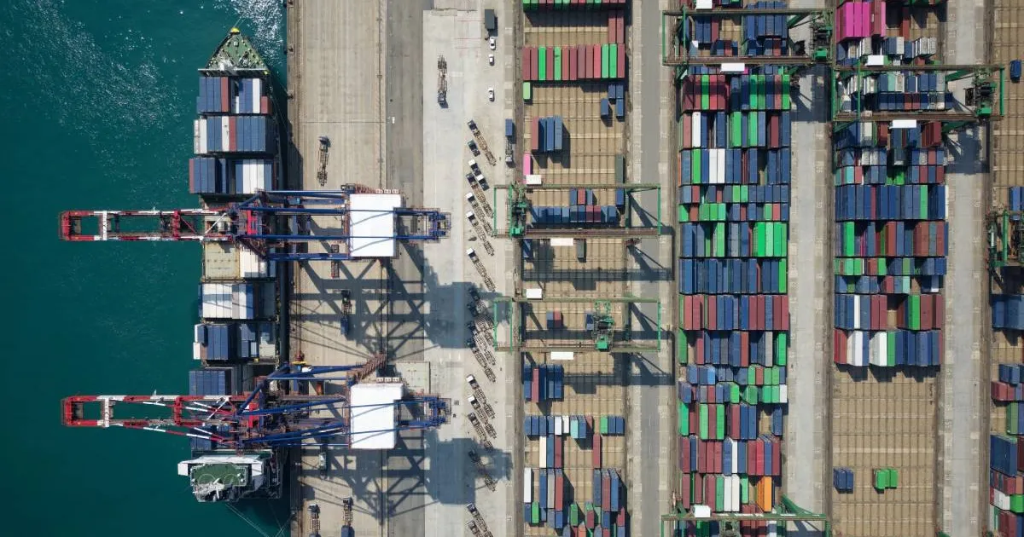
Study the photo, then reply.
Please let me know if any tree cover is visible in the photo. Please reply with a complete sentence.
No, there's no tree cover in this view.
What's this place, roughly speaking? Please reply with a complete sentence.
This image shows a port.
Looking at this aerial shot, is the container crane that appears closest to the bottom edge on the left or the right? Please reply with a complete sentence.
The container crane that appears closest to the bottom edge is on the right side of the image.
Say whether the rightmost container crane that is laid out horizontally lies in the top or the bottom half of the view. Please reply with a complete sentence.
You can find the rightmost container crane that is laid out horizontally in the top half.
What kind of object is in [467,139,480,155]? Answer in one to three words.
vehicle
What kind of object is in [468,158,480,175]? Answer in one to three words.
vehicle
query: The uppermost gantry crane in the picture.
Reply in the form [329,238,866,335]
[663,1,832,84]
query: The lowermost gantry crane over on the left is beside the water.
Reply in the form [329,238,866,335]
[61,342,460,452]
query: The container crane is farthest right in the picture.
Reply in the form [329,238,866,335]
[986,210,1024,273]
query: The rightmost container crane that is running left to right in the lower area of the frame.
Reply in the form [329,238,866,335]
[663,489,832,537]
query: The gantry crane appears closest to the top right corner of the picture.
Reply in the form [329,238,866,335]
[828,56,1002,135]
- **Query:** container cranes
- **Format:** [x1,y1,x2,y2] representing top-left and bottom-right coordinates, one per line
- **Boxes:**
[986,210,1024,273]
[491,173,659,246]
[663,489,832,537]
[828,56,1002,135]
[61,173,460,272]
[663,1,832,84]
[61,342,460,452]
[491,286,660,359]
